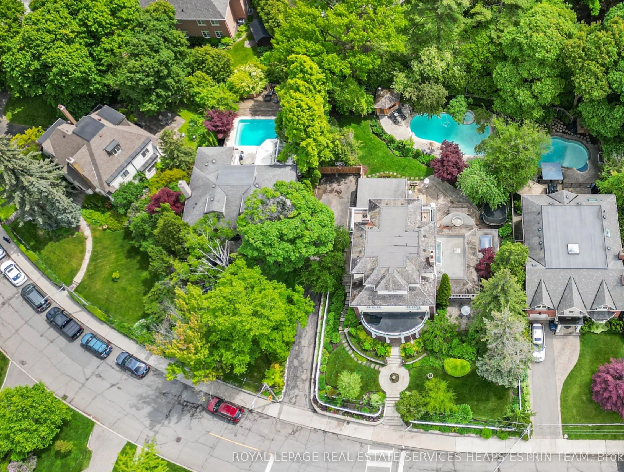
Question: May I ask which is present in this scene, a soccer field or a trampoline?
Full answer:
Visible in the photo is a trampoline.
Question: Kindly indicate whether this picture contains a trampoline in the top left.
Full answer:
No, there's no trampoline to be seen in the top left.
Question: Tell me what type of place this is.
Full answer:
This image shows a residential area.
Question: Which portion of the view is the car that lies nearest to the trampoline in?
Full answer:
The car that lies nearest to the trampoline is in the bottom right part of the image.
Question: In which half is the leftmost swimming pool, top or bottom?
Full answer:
The leftmost swimming pool is in the top half of the image.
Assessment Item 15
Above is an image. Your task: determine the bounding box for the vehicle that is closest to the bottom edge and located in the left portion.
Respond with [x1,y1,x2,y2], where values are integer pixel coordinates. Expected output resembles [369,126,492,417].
[204,394,248,427]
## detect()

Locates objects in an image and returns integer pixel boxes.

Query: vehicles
[0,257,31,290]
[113,349,154,383]
[77,331,116,364]
[528,322,549,365]
[19,281,55,314]
[43,304,86,344]
[204,394,248,427]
